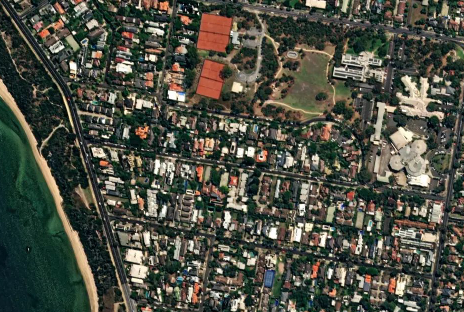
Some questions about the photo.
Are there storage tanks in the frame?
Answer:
No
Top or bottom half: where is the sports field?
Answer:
top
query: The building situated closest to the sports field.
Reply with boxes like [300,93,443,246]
[332,66,366,80]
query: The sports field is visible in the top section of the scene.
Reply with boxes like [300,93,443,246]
[282,52,333,112]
